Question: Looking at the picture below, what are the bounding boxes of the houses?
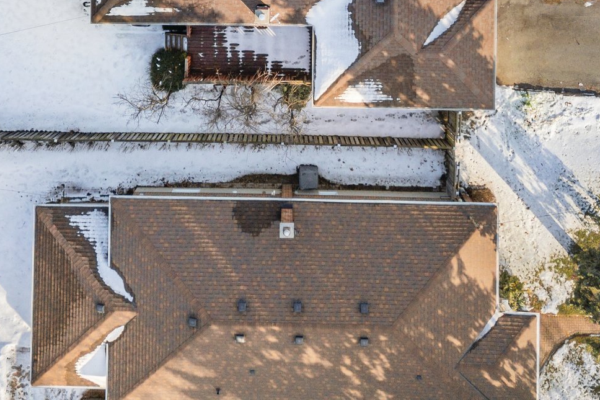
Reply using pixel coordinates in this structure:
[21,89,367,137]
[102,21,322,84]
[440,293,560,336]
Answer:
[90,0,498,112]
[29,177,541,400]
